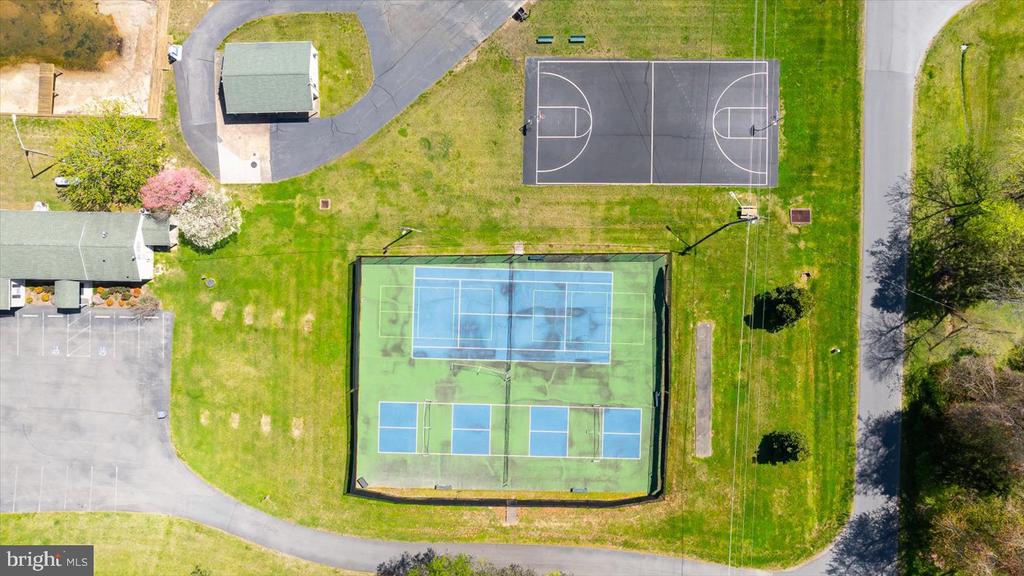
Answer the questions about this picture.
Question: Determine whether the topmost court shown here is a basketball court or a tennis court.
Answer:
basketball court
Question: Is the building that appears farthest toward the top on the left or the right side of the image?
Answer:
left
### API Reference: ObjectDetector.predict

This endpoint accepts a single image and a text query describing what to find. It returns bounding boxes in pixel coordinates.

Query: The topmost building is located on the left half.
[222,42,323,117]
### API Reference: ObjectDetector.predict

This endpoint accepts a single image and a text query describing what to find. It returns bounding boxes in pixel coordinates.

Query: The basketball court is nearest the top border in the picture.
[523,57,779,188]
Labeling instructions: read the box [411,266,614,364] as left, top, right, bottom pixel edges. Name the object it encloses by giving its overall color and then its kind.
blue tennis court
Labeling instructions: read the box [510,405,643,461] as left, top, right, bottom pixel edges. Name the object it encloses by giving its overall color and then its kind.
blue sports court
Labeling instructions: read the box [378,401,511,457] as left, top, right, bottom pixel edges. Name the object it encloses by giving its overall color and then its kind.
blue sports court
